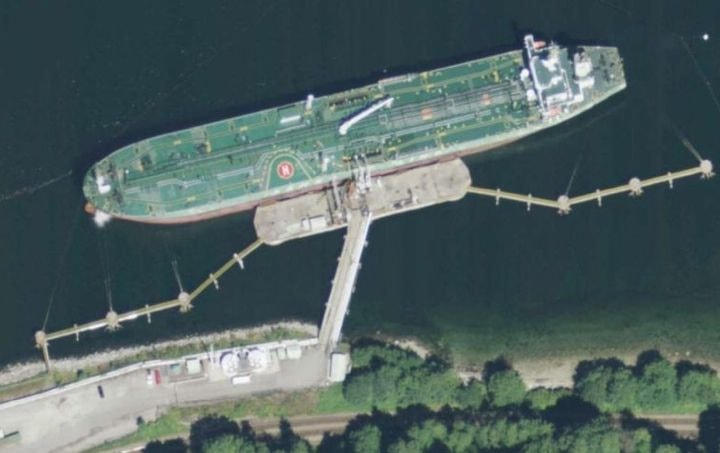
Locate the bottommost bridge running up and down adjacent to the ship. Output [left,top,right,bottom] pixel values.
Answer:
[319,210,371,343]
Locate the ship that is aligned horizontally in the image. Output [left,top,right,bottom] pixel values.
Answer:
[82,36,626,222]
